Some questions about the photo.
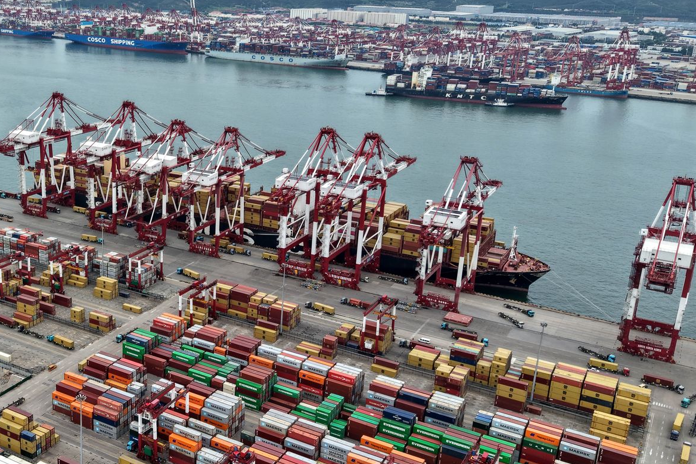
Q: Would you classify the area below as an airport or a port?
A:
port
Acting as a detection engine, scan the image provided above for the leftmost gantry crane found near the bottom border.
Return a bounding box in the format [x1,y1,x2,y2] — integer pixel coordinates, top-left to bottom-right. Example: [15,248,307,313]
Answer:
[131,379,191,464]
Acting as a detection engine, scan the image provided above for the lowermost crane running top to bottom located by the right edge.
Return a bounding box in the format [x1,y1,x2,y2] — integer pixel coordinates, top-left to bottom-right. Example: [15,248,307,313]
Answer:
[611,178,696,363]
